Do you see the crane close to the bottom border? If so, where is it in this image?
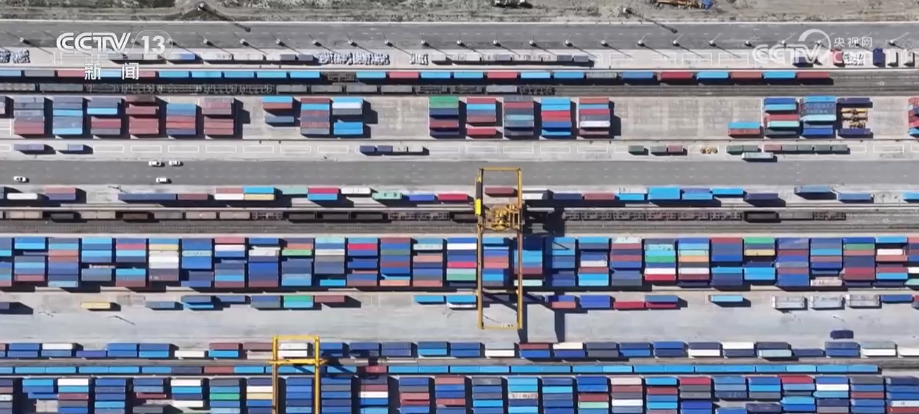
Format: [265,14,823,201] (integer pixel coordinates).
[266,335,329,414]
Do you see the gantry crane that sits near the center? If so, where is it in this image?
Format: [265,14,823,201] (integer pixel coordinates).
[473,167,524,330]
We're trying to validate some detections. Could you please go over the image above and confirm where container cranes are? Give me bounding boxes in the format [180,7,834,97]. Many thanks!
[266,335,329,414]
[473,167,524,330]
